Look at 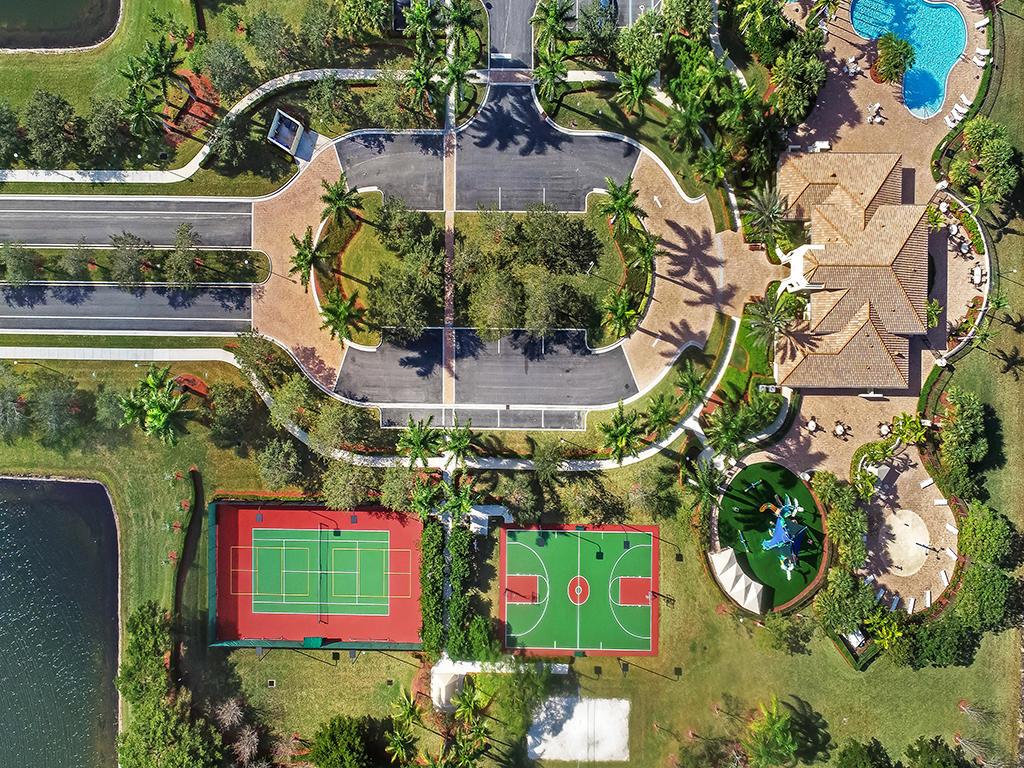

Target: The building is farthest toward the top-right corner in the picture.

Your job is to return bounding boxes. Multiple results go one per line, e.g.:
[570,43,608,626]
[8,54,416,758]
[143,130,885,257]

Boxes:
[768,152,928,388]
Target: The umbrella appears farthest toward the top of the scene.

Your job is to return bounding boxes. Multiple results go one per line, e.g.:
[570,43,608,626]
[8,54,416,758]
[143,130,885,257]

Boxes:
[875,461,891,482]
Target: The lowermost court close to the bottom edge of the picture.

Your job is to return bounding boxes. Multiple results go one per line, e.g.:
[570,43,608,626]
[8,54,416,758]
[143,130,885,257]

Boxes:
[529,699,630,761]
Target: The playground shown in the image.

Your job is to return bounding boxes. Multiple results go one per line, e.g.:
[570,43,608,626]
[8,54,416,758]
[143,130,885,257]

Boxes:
[717,460,831,618]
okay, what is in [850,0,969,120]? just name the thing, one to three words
swimming pool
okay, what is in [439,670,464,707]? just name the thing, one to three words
building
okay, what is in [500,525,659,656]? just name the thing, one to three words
basketball court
